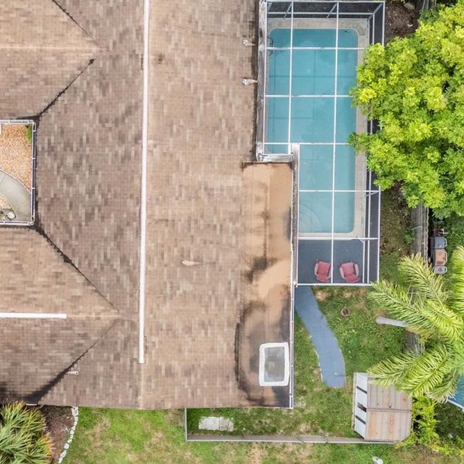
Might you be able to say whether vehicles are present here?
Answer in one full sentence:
No, no vehicle can be seen from above.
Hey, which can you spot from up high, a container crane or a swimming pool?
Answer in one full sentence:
Looking from above, you can make out a swimming pool.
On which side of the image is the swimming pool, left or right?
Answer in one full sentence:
The swimming pool is on the right side of the image.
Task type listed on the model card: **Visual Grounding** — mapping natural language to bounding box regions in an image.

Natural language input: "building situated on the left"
[0,0,297,410]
